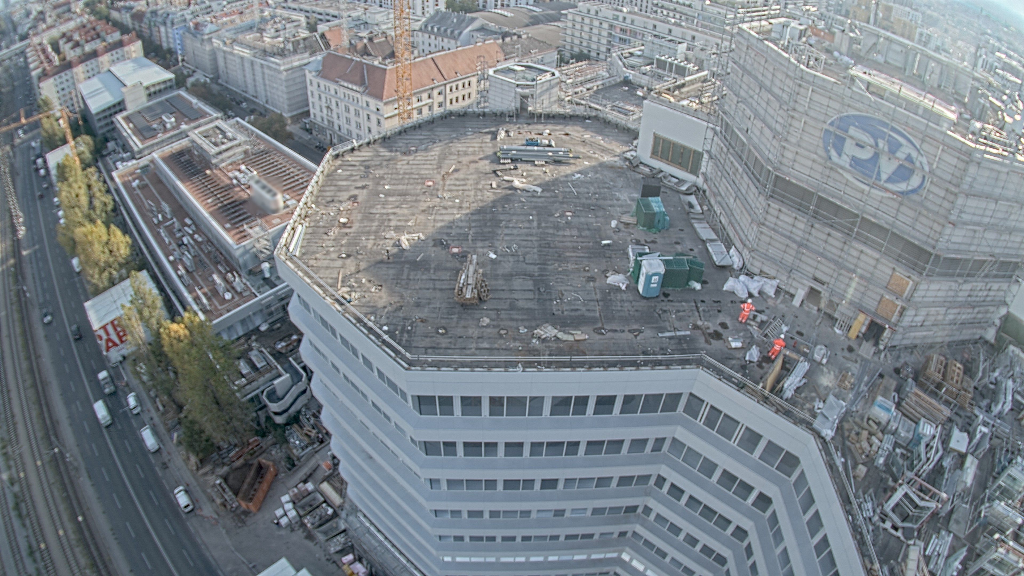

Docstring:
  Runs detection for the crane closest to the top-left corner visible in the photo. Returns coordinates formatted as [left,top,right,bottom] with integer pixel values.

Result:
[0,94,91,169]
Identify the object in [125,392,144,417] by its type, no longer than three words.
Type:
car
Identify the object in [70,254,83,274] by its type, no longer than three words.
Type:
vehicle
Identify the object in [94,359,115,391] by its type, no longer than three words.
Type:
vehicle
